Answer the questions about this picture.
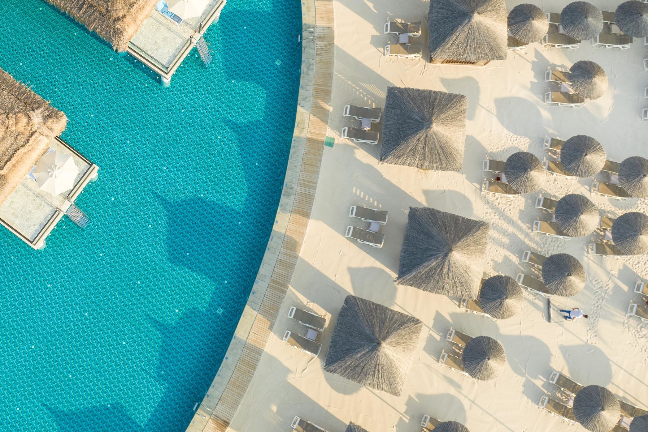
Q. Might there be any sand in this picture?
Yes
